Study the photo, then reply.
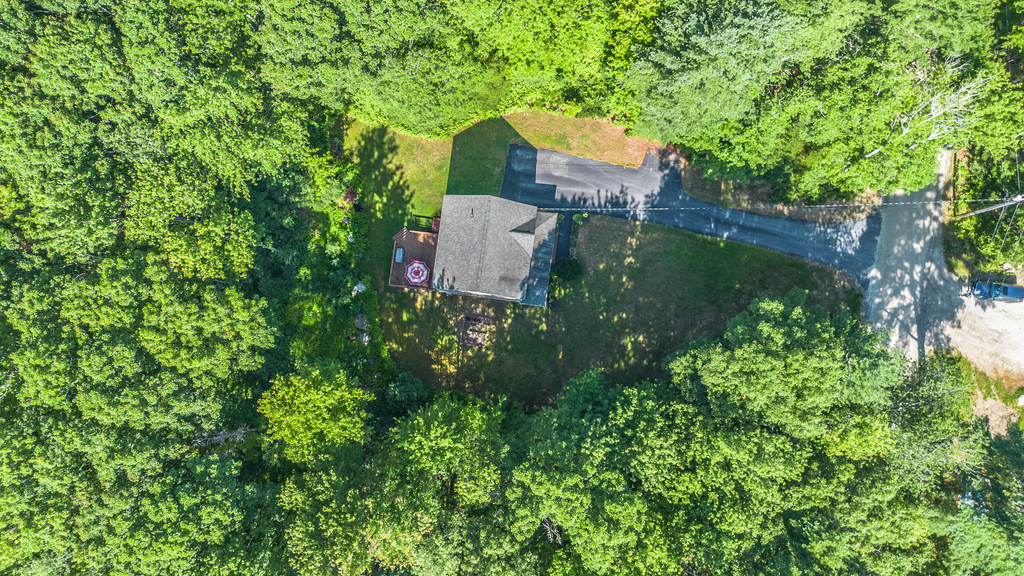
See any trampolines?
No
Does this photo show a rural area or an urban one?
rural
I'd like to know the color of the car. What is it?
blue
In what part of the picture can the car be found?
right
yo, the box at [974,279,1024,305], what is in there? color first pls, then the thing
blue car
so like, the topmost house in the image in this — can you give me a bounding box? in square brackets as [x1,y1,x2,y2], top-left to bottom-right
[430,194,559,308]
